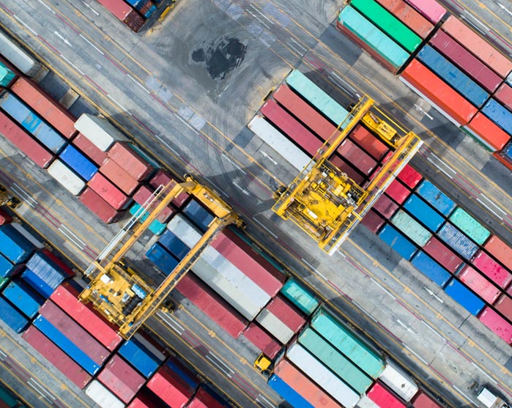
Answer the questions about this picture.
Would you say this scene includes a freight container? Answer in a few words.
Yes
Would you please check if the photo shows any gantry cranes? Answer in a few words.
Yes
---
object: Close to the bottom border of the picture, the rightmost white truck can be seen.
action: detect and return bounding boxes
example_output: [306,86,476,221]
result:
[476,386,510,408]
